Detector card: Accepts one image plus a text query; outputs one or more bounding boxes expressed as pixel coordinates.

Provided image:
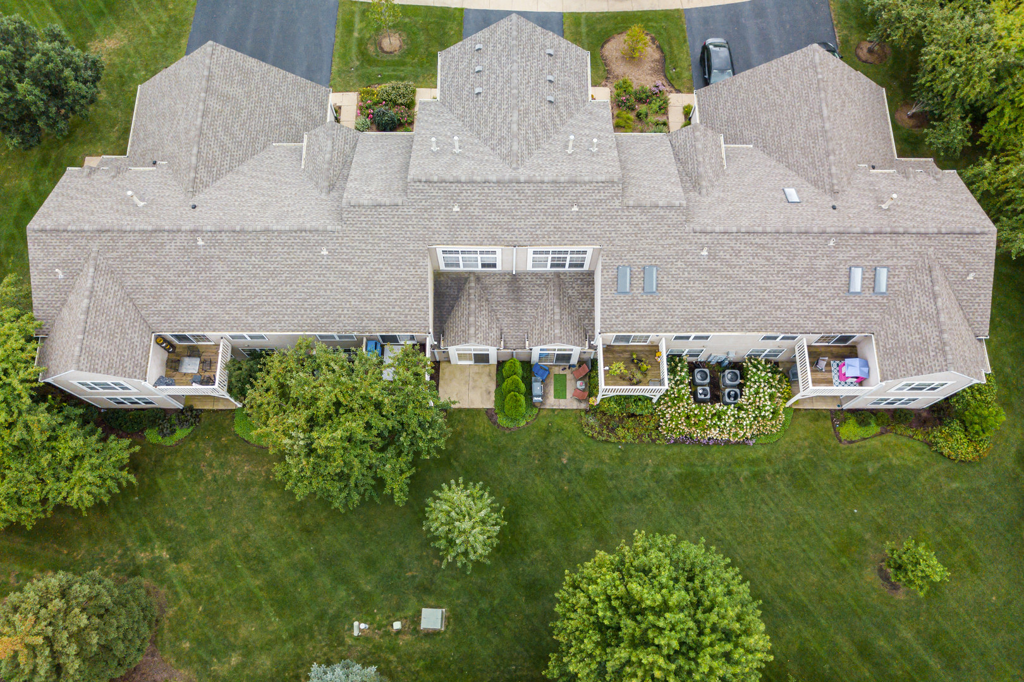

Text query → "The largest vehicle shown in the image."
[699,38,735,86]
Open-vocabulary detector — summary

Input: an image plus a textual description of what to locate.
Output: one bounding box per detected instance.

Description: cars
[699,38,735,86]
[802,40,836,57]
